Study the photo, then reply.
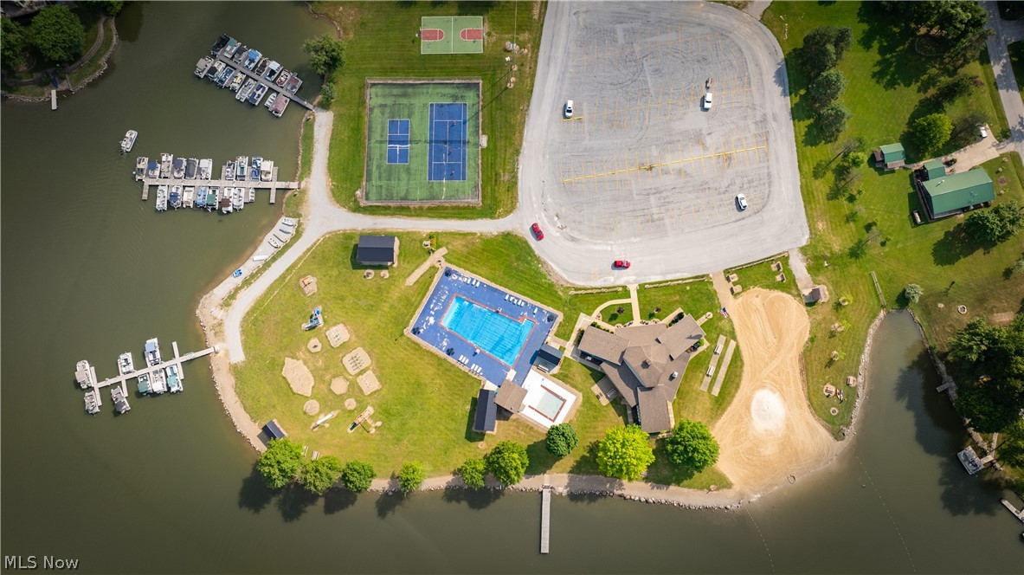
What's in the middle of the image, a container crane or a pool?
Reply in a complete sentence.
The feature located in the middle of the image is a pool.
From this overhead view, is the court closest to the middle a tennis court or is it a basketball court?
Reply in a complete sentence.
I'd say the court closest to the middle is a tennis court.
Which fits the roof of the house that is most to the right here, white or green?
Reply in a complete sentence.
From above, the roof of the house that is most to the right appears green.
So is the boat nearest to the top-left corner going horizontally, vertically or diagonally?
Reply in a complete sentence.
What the image shows is the boat nearest to the top-left corner lying diagonally.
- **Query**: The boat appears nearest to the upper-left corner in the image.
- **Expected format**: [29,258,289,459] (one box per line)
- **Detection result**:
[117,130,140,153]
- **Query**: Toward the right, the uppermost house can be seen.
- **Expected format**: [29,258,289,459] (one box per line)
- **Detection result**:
[874,143,907,171]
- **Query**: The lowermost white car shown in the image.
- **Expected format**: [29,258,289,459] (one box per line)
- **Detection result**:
[736,193,748,210]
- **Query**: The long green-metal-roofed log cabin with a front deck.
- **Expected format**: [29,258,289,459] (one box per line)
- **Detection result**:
[911,160,995,222]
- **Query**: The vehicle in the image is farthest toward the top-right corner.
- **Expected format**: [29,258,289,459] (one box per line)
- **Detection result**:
[977,126,989,141]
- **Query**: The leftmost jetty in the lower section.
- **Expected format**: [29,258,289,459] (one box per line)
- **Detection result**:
[89,342,214,405]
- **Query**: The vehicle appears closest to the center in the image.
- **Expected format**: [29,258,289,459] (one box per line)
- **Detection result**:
[531,224,544,240]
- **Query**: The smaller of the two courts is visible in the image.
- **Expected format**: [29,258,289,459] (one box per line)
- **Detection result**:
[418,16,486,54]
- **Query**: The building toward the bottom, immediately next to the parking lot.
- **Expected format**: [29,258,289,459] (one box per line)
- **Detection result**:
[578,314,705,431]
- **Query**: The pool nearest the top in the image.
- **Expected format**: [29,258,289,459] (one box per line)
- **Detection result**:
[407,262,563,391]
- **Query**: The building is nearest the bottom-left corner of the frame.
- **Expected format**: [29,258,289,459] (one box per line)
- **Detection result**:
[262,420,288,443]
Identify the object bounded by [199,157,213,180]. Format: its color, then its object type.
white boat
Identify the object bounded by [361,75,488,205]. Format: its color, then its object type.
green tennis court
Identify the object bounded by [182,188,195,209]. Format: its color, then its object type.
white boat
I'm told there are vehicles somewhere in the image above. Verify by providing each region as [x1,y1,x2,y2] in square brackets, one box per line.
[977,126,989,141]
[736,193,748,210]
[614,260,630,268]
[531,224,544,240]
[704,92,713,109]
[565,101,573,118]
